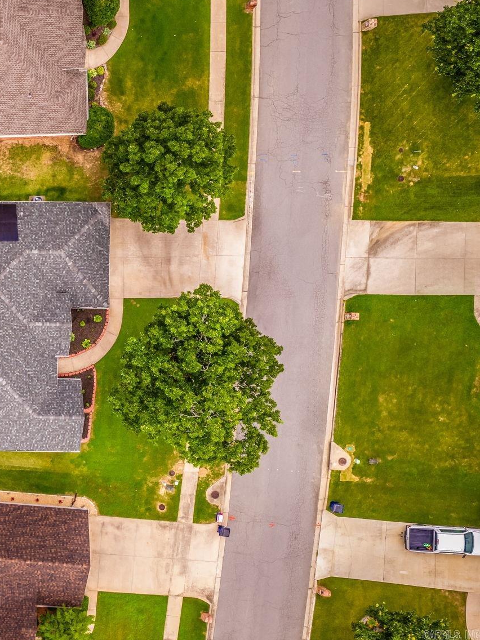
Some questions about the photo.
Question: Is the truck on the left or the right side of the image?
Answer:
right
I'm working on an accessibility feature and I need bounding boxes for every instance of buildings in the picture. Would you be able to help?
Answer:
[0,0,91,142]
[0,201,110,452]
[0,497,90,640]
